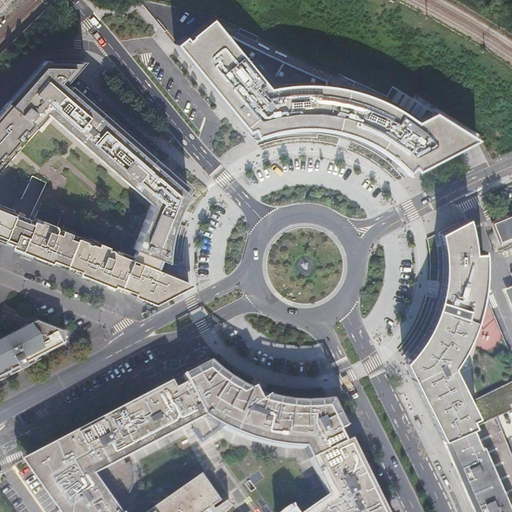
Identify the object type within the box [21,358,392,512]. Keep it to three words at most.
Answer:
building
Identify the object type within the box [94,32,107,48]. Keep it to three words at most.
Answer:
vehicle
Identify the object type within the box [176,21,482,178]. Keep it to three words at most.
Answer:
building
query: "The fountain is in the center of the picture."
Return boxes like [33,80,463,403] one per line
[296,256,314,275]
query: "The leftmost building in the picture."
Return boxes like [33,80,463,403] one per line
[0,320,68,384]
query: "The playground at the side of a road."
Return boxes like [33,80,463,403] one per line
[476,298,502,349]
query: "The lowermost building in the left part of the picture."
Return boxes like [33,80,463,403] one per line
[152,473,233,512]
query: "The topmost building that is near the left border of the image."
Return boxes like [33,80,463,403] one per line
[0,62,184,254]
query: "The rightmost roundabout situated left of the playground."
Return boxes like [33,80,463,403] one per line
[245,205,366,326]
